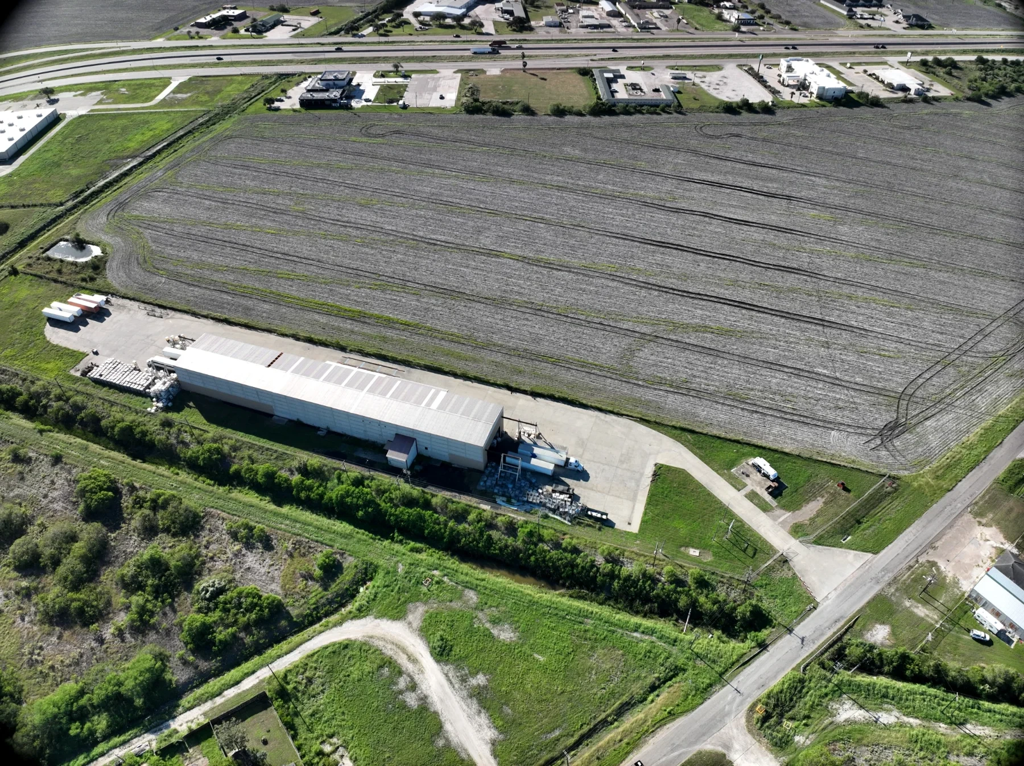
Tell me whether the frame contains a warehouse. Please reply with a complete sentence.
Yes, there is a warehouse in the image.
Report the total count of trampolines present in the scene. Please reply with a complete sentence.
The photo contains no trampolines.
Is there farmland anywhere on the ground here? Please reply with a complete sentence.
Yes, farmland shows up in the scene.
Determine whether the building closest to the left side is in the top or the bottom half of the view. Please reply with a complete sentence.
Seen from above, the building closest to the left side lies in the top half of the view.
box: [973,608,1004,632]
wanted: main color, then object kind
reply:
white vehicle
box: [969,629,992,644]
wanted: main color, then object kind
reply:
white vehicle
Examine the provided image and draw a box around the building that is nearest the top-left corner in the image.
[0,106,56,160]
